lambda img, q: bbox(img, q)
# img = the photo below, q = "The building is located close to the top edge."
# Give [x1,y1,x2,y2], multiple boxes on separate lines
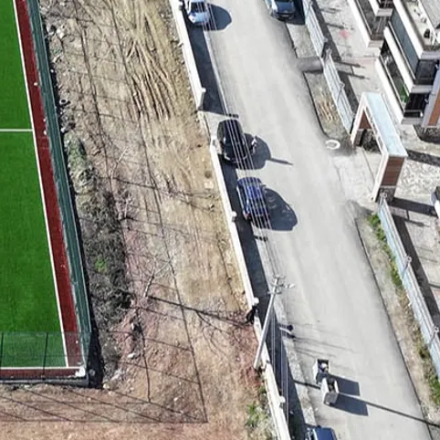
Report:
[342,0,440,135]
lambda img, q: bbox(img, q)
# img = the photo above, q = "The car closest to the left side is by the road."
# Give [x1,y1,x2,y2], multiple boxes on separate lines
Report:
[181,0,210,23]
